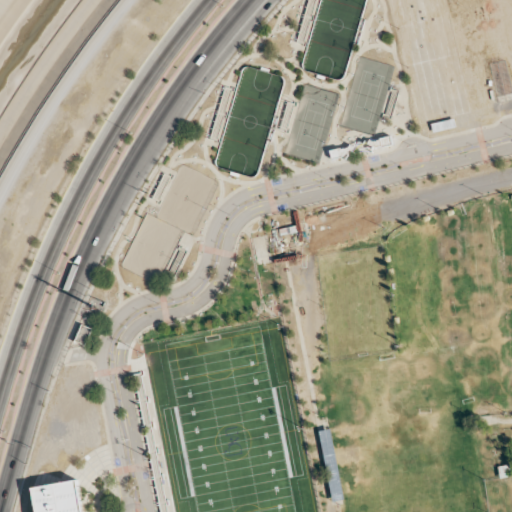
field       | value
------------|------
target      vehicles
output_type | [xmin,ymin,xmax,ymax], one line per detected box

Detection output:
[300,306,305,316]
[93,237,100,246]
[64,256,81,290]
[2,489,8,498]
[10,460,16,469]
[194,54,206,66]
[263,2,271,10]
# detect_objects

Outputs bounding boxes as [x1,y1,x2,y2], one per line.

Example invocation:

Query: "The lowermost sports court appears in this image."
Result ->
[122,214,184,278]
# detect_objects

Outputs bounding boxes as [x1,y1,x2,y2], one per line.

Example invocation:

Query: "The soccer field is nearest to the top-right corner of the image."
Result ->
[303,0,363,78]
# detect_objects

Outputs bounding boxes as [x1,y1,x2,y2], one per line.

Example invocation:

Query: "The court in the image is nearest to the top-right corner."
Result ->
[340,57,392,134]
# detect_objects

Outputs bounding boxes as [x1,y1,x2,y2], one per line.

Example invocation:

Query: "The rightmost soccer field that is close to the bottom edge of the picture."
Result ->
[345,352,482,510]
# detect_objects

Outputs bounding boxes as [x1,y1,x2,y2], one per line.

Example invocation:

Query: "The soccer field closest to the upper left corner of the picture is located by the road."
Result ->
[216,67,280,177]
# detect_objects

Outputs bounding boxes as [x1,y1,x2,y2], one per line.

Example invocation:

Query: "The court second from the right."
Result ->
[284,83,336,162]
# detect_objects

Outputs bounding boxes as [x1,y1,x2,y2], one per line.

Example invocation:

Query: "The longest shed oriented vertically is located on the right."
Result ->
[320,429,343,502]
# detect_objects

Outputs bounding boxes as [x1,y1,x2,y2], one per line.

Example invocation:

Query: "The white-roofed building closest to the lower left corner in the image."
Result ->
[28,481,83,512]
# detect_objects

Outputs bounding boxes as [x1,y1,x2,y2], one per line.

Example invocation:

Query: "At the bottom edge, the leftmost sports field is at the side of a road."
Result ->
[144,318,316,512]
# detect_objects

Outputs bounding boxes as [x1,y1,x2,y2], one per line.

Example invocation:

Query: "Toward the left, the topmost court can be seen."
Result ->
[159,165,218,234]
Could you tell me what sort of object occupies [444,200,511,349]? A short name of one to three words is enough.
sports field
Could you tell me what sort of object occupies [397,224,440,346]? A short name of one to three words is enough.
soccer field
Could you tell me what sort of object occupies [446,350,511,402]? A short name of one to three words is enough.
sports field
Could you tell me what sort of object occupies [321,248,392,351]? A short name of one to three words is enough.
soccer field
